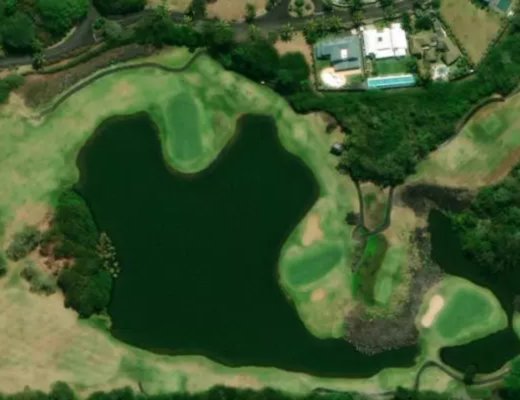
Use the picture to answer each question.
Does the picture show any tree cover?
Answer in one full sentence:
Yes, there is tree cover in the image.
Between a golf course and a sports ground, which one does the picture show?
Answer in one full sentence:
The area seen from above is a golf course.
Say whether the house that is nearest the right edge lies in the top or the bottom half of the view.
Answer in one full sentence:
Seen from above, the house that is nearest the right edge lies in the top half of the view.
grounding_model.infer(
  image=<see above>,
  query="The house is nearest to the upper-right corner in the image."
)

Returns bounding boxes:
[411,31,463,64]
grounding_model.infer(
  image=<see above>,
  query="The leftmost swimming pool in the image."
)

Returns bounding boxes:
[368,74,416,90]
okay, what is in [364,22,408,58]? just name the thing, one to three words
house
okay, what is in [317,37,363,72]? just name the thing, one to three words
house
